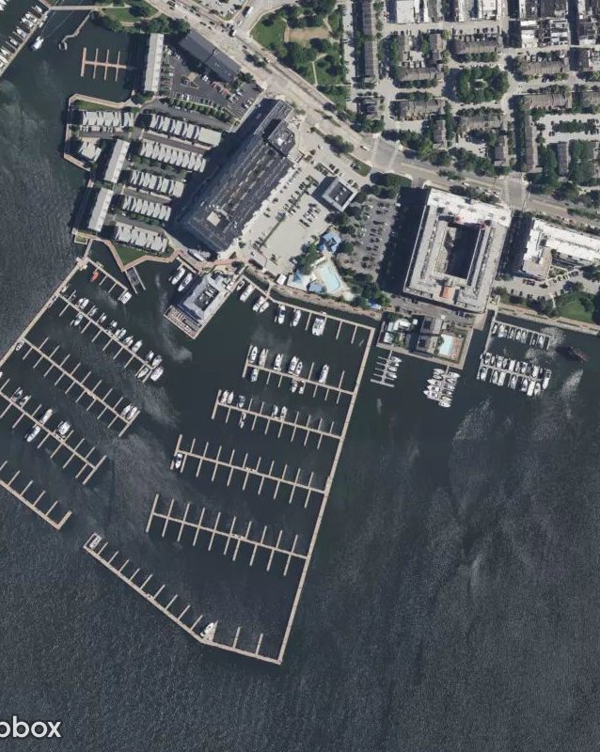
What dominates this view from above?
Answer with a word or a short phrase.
water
